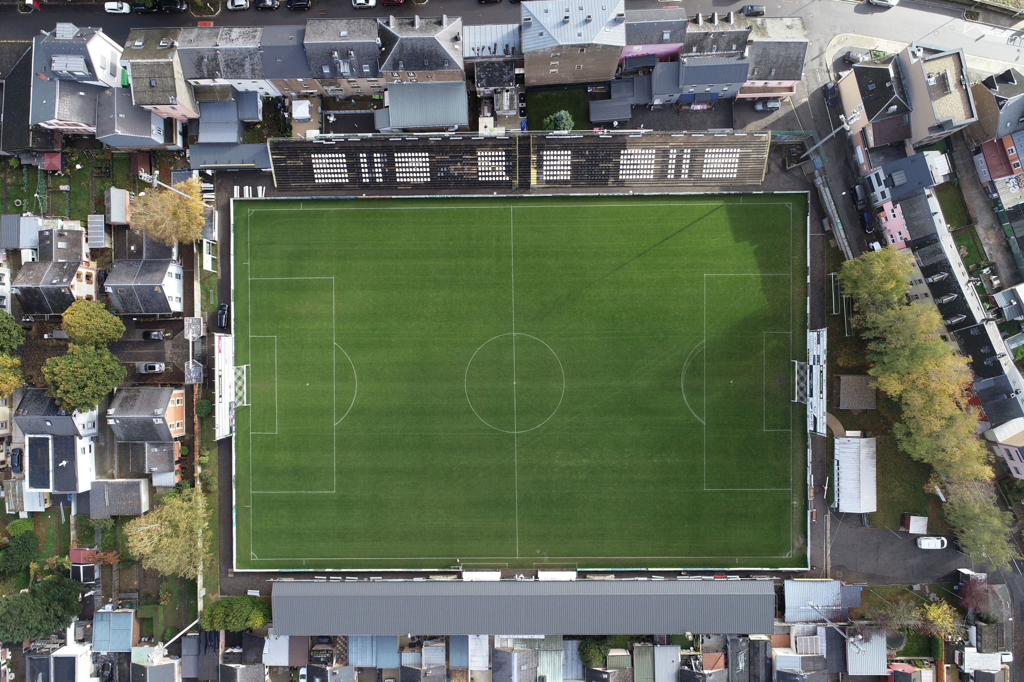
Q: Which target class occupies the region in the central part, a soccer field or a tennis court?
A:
soccer field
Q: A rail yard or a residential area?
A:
residential area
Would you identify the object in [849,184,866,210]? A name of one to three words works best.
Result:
car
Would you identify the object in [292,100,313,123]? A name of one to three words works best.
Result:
tent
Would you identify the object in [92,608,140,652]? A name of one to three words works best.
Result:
building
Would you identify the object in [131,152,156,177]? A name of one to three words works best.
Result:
shed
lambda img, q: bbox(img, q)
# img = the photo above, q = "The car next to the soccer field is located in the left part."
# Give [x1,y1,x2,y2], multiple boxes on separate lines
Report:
[217,303,230,329]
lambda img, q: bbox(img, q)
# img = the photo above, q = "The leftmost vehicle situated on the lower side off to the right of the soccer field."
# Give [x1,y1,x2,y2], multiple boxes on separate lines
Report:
[916,537,946,550]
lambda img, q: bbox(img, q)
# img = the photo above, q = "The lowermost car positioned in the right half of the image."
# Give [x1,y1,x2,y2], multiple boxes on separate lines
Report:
[998,650,1016,663]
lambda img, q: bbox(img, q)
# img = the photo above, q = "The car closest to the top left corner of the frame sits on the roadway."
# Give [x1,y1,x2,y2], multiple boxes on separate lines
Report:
[106,1,130,14]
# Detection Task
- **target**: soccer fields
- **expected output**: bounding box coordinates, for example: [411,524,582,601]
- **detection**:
[233,192,808,570]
